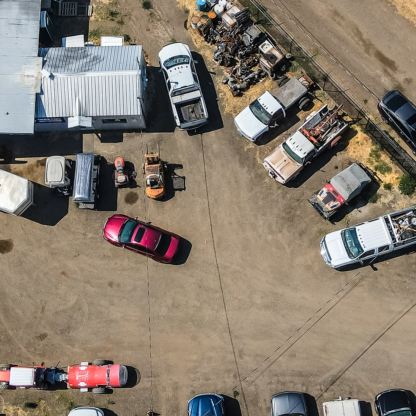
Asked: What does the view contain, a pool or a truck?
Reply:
truck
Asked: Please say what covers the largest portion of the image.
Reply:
paved ground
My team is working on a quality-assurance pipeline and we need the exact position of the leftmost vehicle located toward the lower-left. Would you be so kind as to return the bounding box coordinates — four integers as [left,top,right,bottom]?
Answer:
[0,362,56,393]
